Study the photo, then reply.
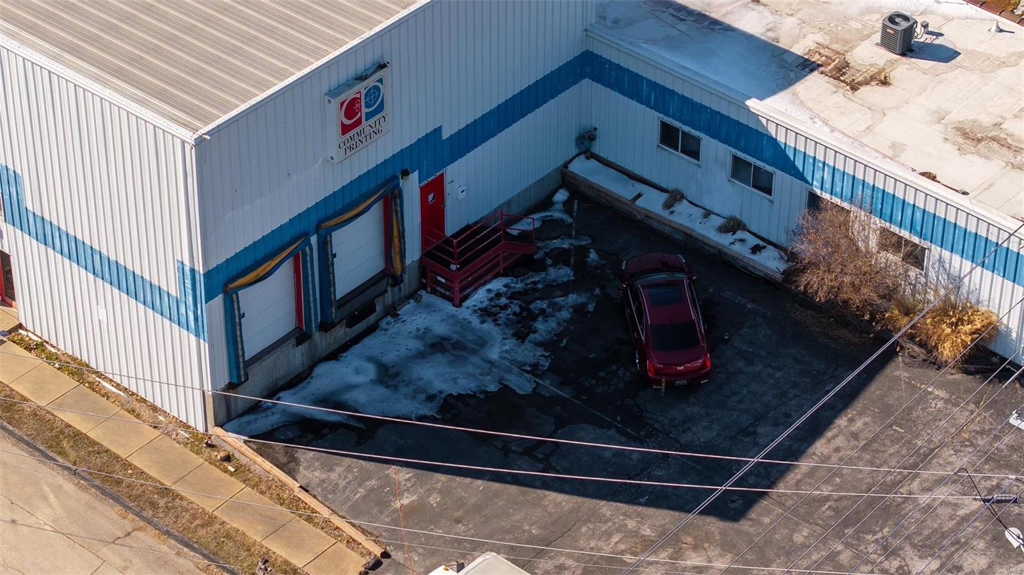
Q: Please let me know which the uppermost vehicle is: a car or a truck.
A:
car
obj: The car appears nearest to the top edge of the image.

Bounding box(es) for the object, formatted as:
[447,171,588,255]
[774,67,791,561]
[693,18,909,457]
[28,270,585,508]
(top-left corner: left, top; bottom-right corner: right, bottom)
[617,253,711,388]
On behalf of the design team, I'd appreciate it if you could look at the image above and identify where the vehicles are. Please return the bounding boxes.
[423,554,523,575]
[617,253,711,388]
